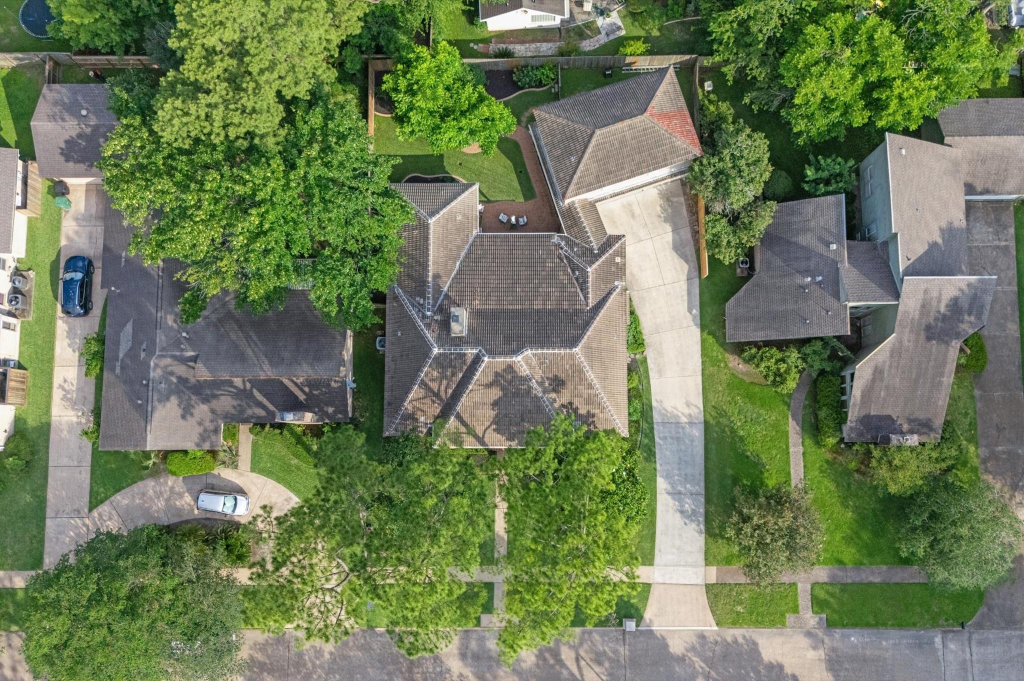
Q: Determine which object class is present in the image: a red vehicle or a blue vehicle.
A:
blue vehicle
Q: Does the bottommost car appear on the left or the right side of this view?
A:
left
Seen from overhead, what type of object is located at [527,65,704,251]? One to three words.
building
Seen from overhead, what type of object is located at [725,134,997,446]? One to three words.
house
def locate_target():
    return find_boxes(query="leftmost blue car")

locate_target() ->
[56,256,93,316]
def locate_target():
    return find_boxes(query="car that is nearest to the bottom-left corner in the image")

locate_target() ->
[193,487,249,518]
